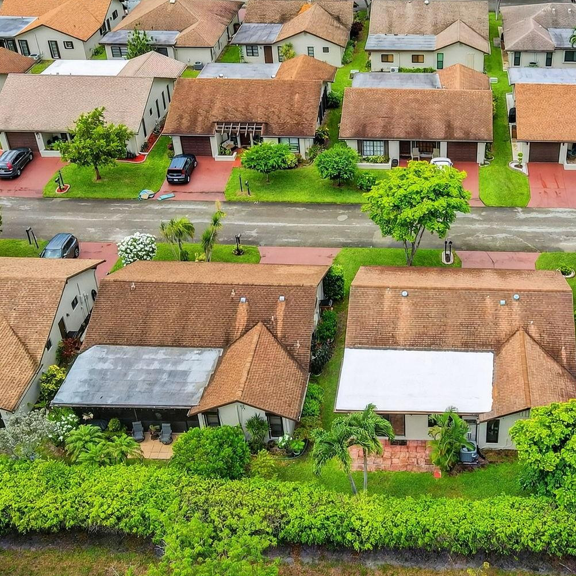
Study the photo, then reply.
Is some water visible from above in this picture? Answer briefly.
No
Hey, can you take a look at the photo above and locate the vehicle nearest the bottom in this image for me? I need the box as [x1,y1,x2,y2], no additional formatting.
[39,232,85,260]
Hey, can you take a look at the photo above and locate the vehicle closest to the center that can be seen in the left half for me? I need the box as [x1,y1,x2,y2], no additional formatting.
[166,151,200,179]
